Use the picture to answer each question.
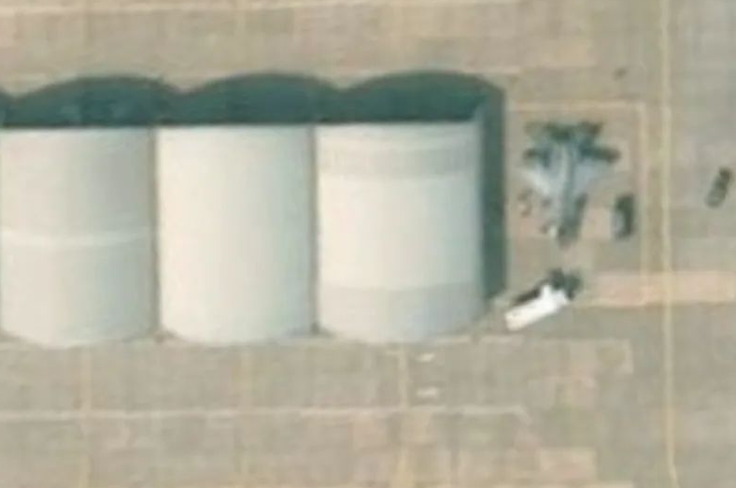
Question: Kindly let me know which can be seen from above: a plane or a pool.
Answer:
plane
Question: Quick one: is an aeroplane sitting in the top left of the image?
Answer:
No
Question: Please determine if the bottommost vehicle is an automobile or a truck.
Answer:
truck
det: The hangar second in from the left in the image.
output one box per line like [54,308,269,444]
[157,119,319,342]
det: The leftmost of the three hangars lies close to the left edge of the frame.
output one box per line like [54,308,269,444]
[0,120,162,344]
